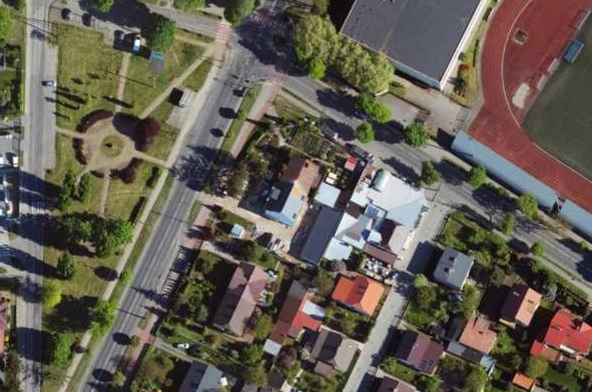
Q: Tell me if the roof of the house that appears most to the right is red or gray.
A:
red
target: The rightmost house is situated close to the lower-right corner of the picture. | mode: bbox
[542,314,592,362]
